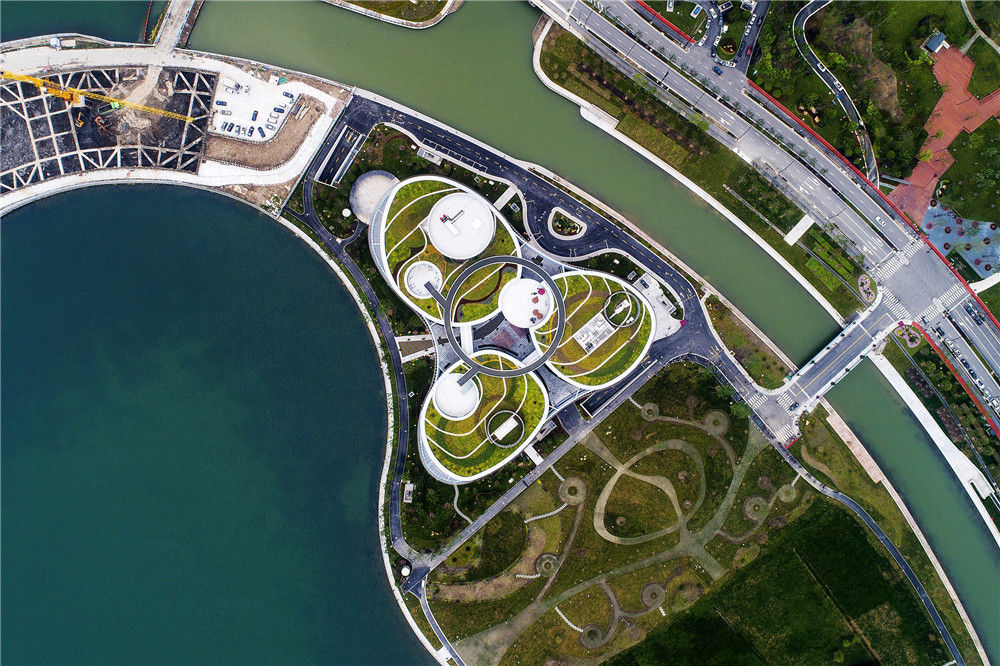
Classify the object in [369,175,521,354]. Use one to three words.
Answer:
building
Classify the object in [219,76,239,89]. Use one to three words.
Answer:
vehicle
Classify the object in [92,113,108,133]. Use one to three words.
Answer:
work vehicle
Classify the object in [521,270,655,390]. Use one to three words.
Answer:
building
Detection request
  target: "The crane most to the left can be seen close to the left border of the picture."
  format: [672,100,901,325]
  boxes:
[0,65,193,123]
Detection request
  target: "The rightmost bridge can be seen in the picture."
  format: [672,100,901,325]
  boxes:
[796,312,887,413]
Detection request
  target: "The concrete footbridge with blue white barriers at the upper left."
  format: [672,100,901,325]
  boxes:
[153,0,203,48]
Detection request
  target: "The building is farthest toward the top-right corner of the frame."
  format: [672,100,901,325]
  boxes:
[921,29,951,54]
